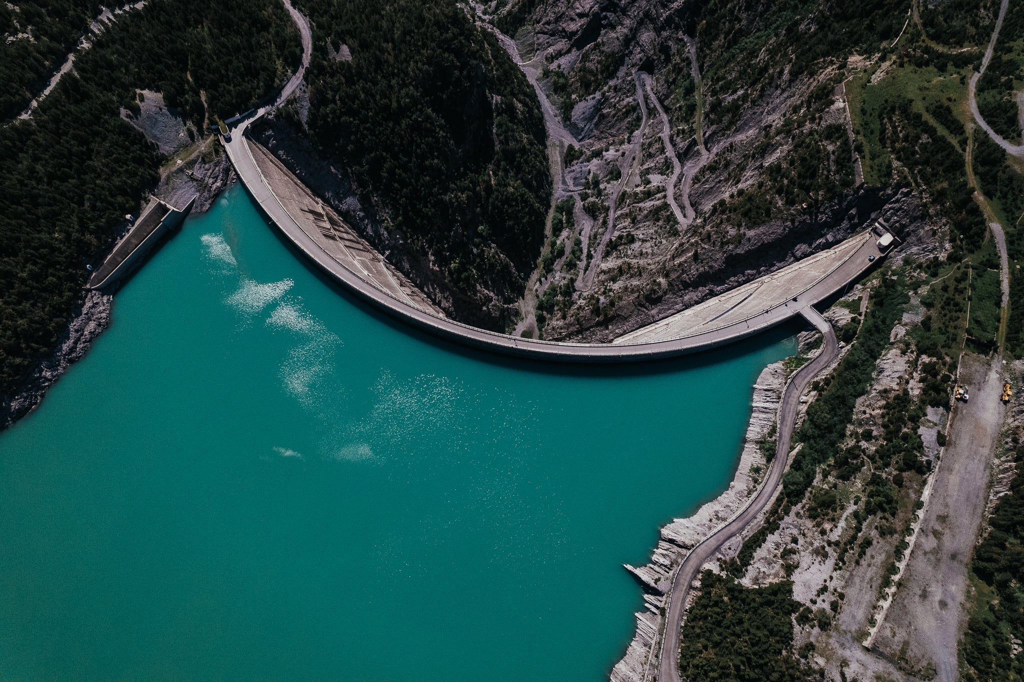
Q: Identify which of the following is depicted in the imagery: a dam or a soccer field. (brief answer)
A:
dam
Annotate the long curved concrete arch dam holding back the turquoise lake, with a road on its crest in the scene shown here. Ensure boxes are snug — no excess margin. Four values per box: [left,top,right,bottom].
[221,137,894,363]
